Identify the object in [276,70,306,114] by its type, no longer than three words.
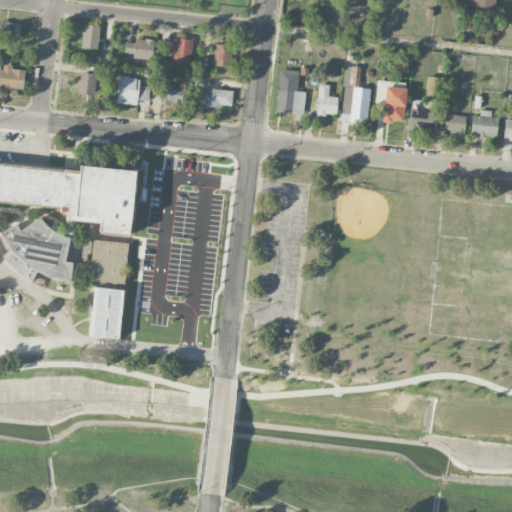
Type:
house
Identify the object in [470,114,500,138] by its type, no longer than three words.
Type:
house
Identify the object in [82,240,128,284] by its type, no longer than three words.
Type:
building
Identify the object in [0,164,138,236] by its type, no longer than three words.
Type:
building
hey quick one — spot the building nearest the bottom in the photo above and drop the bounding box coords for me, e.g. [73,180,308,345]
[90,286,126,340]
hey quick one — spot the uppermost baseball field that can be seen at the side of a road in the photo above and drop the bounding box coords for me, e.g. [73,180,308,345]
[330,186,418,268]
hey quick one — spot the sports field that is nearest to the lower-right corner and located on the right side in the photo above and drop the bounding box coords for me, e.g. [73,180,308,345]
[430,199,512,343]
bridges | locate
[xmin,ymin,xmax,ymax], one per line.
[197,364,239,498]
